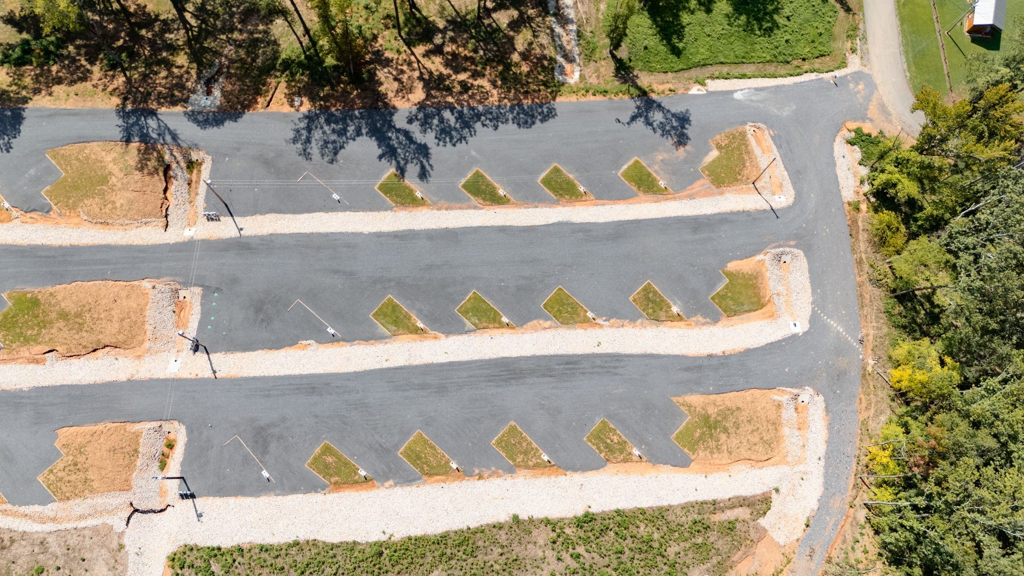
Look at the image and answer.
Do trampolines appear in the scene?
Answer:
No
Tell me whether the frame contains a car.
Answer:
No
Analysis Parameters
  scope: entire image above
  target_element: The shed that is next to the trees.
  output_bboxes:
[958,0,1007,37]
